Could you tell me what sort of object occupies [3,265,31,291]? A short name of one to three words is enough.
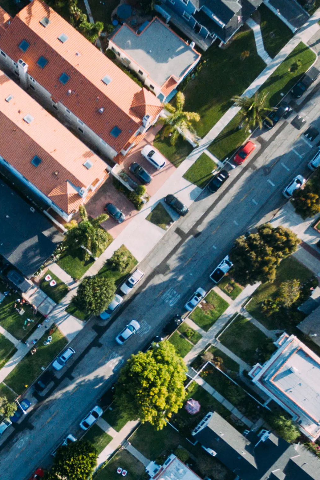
car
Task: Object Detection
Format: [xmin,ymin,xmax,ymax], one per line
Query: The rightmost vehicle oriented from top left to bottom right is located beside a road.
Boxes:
[163,193,189,217]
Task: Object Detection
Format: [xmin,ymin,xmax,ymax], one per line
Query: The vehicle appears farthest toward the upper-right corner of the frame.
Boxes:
[291,66,320,99]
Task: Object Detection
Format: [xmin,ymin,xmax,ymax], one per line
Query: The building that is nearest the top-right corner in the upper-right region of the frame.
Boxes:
[262,0,311,37]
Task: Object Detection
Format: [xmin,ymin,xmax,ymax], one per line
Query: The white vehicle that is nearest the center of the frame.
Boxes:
[120,268,146,295]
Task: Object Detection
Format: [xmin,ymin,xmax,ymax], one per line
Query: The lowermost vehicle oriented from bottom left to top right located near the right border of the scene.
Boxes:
[281,173,307,201]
